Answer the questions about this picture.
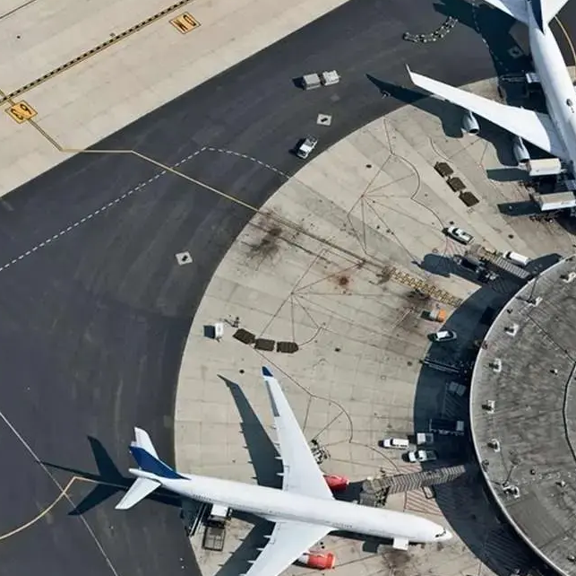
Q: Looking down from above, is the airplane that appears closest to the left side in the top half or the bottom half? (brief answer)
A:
bottom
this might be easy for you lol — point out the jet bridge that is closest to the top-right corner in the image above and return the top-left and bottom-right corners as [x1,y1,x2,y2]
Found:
[459,244,533,286]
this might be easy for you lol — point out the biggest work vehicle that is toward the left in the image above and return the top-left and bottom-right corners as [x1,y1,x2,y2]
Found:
[201,506,230,556]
